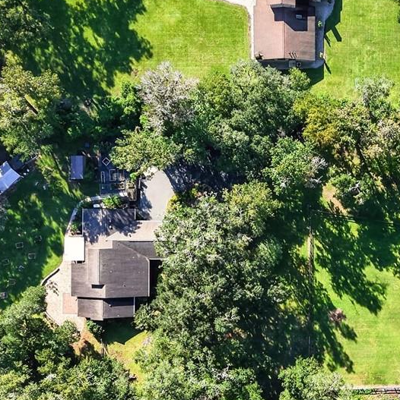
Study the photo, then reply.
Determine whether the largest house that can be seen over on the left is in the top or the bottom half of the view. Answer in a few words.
bottom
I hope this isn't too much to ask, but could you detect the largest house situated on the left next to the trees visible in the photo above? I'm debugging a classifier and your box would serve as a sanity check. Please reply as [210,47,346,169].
[64,209,173,320]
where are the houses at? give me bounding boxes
[254,0,322,61]
[64,209,173,320]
